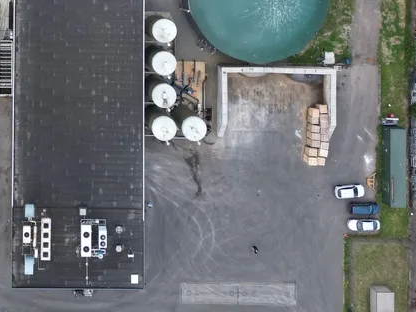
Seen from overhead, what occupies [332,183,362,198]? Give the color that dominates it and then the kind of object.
white car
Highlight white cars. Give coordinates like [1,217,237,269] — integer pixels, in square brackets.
[347,218,381,232]
[332,183,362,198]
